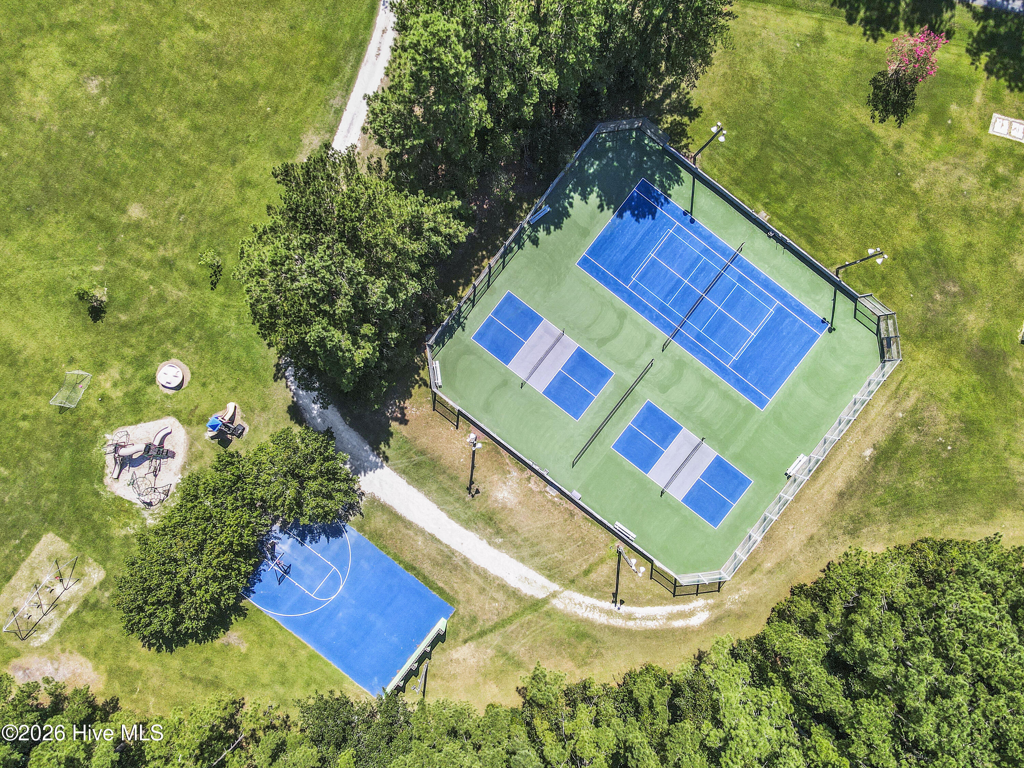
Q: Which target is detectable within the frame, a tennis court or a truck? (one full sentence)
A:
This aerial view contains a tennis court.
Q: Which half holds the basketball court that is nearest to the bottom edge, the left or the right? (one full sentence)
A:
It is on the left.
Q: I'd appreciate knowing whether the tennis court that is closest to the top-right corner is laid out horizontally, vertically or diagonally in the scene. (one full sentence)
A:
The tennis court that is closest to the top-right corner runs diagonally in the image.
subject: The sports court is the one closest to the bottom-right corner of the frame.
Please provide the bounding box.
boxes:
[610,399,754,529]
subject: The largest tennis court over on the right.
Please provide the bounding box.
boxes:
[576,179,830,410]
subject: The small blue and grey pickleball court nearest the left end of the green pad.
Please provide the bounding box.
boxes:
[472,291,614,420]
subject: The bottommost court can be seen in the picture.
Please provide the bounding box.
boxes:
[230,509,455,699]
